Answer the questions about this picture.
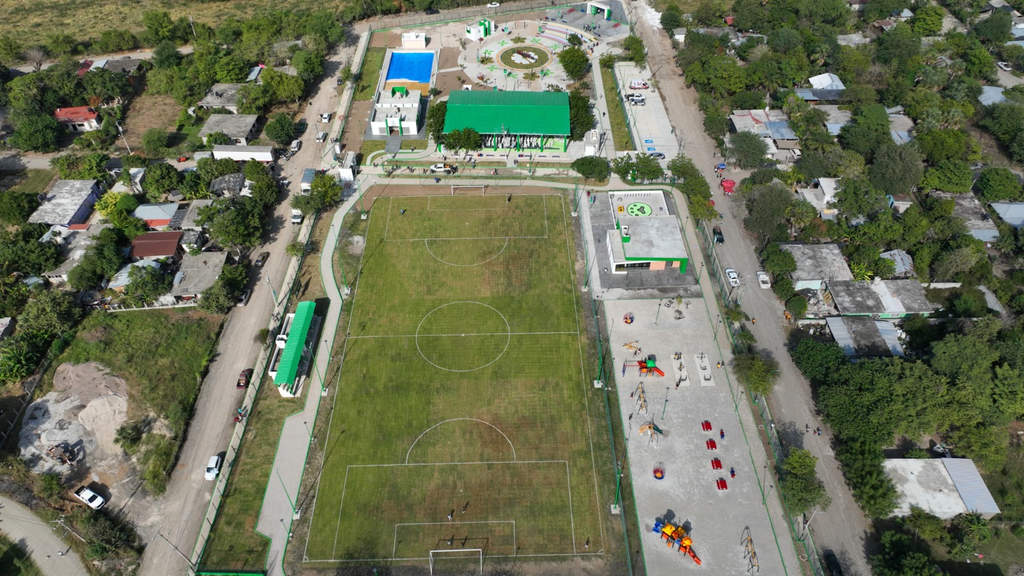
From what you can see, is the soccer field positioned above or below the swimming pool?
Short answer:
below it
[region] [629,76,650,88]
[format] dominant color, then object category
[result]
white vehicle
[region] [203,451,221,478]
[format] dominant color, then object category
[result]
white car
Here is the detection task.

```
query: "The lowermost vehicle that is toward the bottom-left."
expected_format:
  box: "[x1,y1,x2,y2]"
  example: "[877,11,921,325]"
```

[70,482,103,508]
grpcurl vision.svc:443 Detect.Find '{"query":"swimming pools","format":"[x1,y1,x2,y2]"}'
[372,46,440,98]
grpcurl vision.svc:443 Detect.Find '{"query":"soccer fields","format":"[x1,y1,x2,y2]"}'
[301,192,606,566]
